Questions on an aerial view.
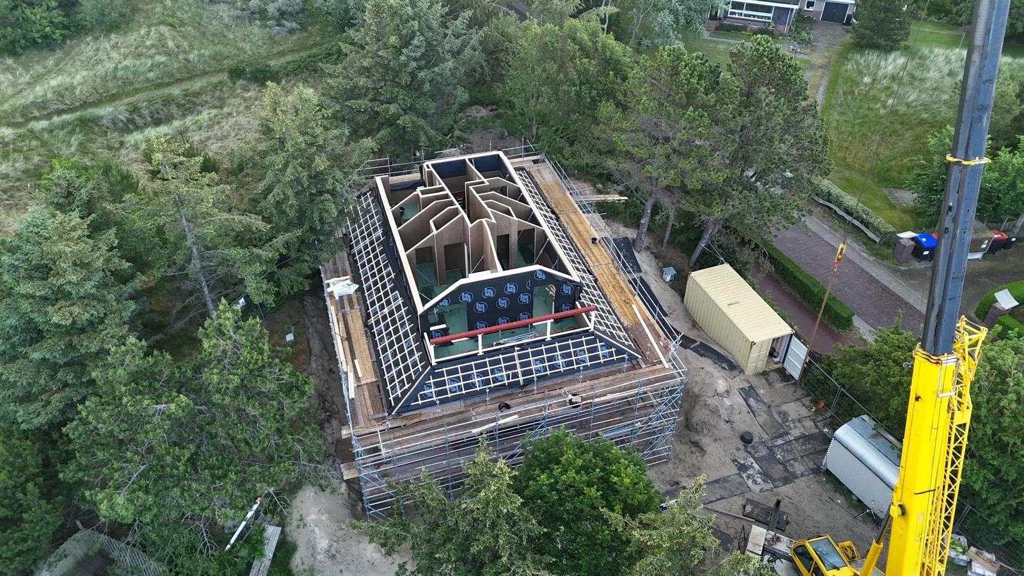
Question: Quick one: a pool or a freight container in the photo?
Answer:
freight container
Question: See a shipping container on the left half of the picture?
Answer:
No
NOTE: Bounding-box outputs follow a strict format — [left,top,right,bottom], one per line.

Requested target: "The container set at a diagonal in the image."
[684,262,806,377]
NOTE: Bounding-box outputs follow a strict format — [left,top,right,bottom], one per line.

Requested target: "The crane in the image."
[756,0,1009,576]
